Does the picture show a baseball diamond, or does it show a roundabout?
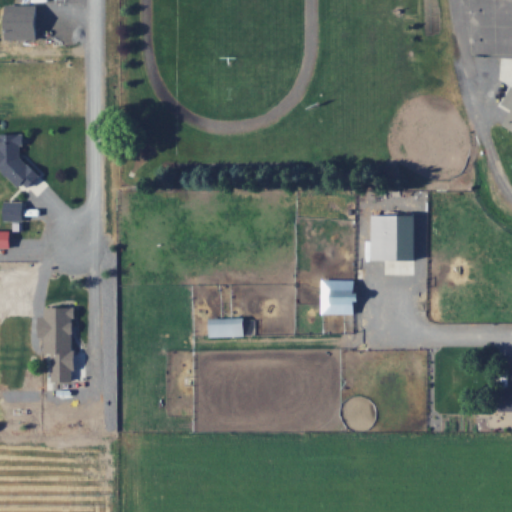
baseball diamond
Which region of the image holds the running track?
top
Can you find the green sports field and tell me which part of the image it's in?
top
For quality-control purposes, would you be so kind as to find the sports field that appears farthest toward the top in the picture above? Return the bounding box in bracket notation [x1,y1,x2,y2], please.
[152,0,304,120]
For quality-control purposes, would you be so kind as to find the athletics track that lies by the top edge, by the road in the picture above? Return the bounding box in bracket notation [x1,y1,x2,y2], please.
[140,0,318,134]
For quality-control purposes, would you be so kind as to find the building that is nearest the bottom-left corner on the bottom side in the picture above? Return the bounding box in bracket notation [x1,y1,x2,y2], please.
[37,308,74,382]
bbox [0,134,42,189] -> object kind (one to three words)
house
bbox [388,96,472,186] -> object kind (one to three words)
baseball field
